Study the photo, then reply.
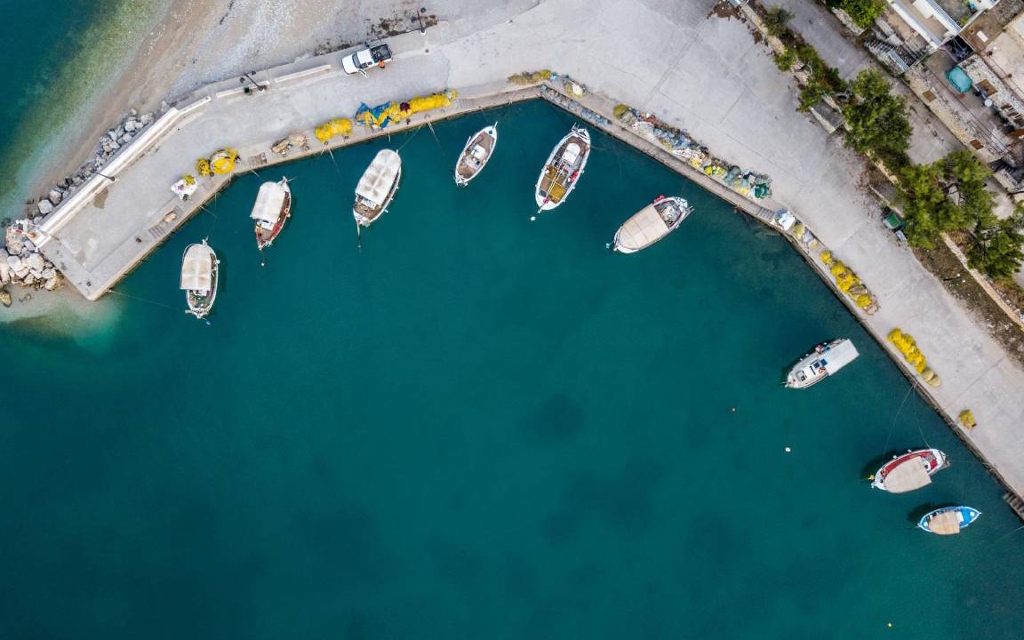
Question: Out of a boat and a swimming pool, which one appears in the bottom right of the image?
boat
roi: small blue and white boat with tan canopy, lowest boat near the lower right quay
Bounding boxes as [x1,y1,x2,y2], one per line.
[907,504,983,535]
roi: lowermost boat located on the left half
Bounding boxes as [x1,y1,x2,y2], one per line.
[181,240,223,318]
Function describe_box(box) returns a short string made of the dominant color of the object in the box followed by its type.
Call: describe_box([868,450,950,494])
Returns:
white boat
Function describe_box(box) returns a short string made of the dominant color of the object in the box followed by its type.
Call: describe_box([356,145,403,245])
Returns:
white boat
